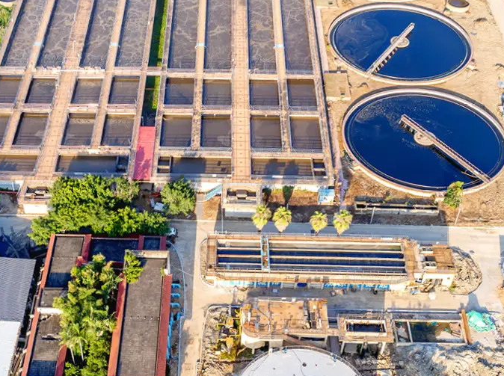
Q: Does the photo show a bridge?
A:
Yes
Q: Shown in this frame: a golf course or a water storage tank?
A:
water storage tank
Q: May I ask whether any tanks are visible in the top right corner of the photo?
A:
Yes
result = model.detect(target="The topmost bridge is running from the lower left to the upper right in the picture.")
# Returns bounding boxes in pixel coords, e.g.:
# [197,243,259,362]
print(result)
[364,20,416,77]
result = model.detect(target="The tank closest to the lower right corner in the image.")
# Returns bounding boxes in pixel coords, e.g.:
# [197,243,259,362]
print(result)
[326,309,396,356]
